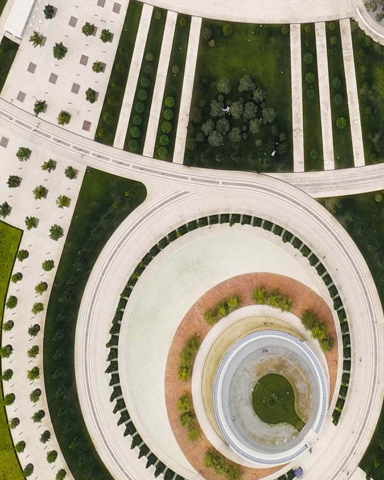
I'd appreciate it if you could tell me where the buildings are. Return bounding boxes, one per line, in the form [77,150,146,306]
[212,326,330,465]
[3,0,40,44]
